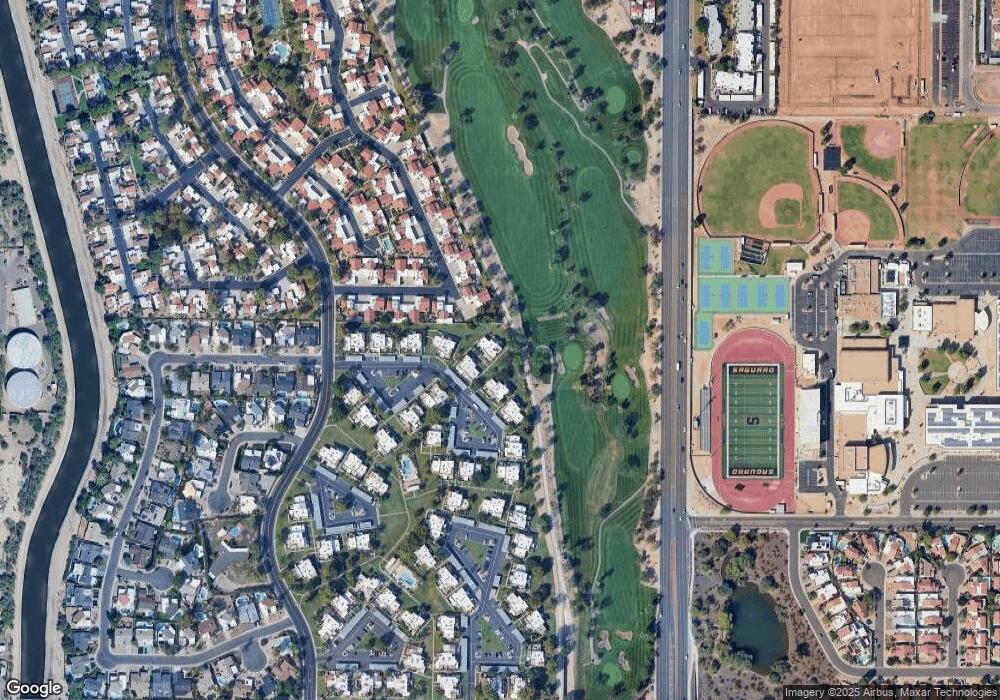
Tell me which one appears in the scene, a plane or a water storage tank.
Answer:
water storage tank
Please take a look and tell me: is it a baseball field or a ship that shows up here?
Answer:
baseball field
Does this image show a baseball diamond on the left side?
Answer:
No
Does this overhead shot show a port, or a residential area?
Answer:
residential area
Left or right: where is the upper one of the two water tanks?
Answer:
left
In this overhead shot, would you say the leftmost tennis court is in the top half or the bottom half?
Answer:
top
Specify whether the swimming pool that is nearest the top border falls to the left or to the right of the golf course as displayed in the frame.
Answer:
left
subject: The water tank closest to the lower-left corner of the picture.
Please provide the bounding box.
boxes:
[5,372,42,407]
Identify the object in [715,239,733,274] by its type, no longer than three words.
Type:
tennis court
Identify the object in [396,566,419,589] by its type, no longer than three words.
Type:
swimming pool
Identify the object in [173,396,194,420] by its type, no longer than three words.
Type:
house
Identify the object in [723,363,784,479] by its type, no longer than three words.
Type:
sports field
